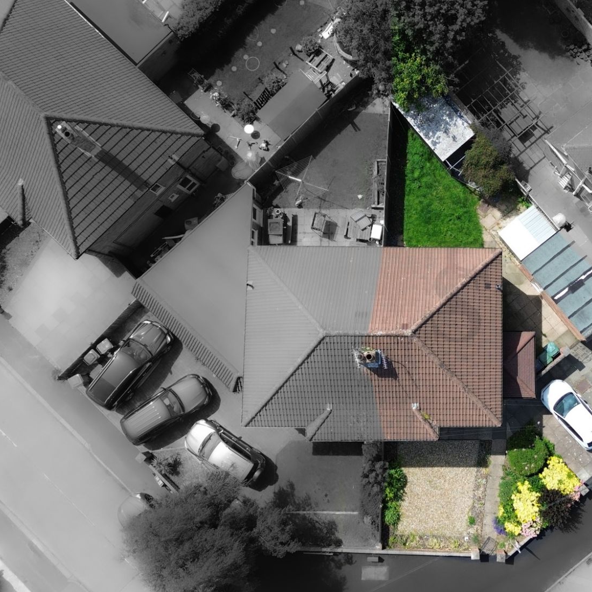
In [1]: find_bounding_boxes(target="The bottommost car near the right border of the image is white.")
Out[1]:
[537,376,592,456]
